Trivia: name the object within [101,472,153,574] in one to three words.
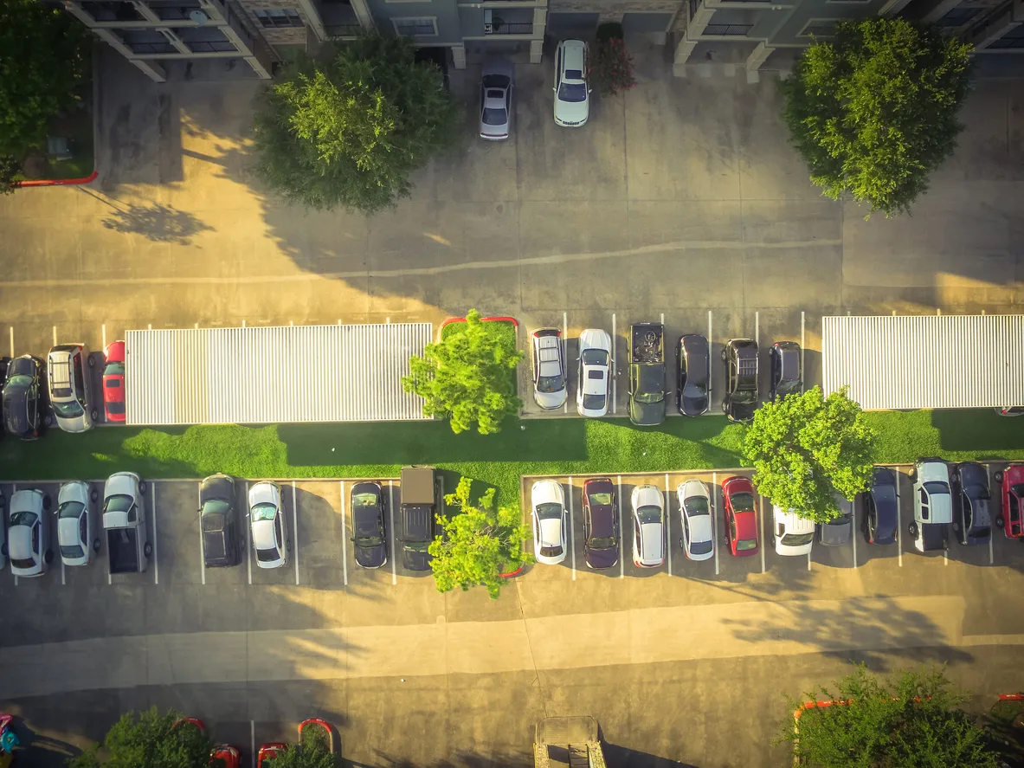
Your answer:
truck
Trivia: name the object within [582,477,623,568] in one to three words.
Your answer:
car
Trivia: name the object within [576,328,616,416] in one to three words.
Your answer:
car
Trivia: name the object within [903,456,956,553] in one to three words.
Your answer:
truck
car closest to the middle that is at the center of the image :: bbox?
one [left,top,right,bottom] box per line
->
[531,328,570,410]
